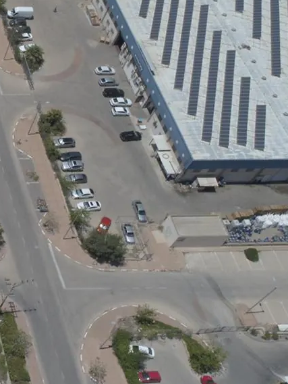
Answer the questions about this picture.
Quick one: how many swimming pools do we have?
0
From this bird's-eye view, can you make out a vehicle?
Yes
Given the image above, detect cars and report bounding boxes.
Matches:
[13,24,33,34]
[18,43,39,53]
[60,158,85,172]
[64,173,90,184]
[71,187,95,199]
[93,66,116,76]
[109,98,133,108]
[62,149,84,161]
[120,223,136,246]
[133,343,157,360]
[9,18,27,27]
[54,136,77,148]
[108,107,132,117]
[118,130,143,141]
[137,369,165,384]
[76,199,102,211]
[97,77,120,87]
[97,215,114,232]
[101,87,126,98]
[132,199,149,222]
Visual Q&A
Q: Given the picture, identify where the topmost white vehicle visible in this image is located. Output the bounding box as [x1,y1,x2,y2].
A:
[8,5,35,18]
